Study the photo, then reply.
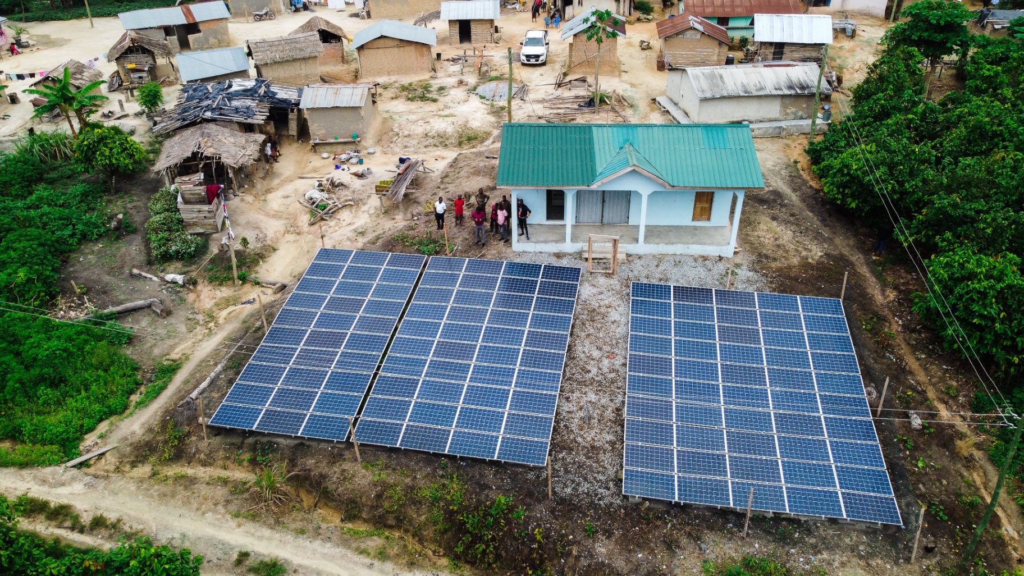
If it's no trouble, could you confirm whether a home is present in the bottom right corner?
No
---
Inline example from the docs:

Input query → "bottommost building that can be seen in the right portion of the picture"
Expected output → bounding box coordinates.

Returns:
[495,123,764,261]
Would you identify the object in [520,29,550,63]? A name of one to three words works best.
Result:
truck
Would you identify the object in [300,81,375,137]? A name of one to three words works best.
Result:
shed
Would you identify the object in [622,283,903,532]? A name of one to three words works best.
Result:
solar array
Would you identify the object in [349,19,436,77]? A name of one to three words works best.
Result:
shed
